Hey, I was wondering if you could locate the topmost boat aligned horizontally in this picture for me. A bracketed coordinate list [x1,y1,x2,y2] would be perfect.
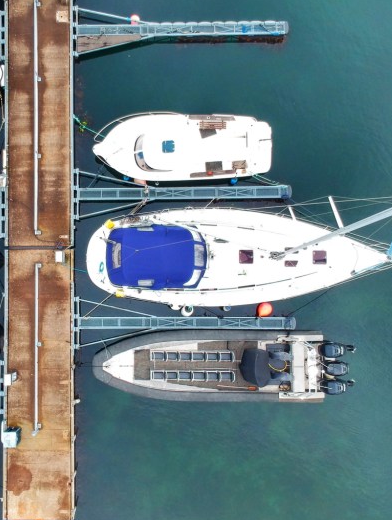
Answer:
[92,112,273,182]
